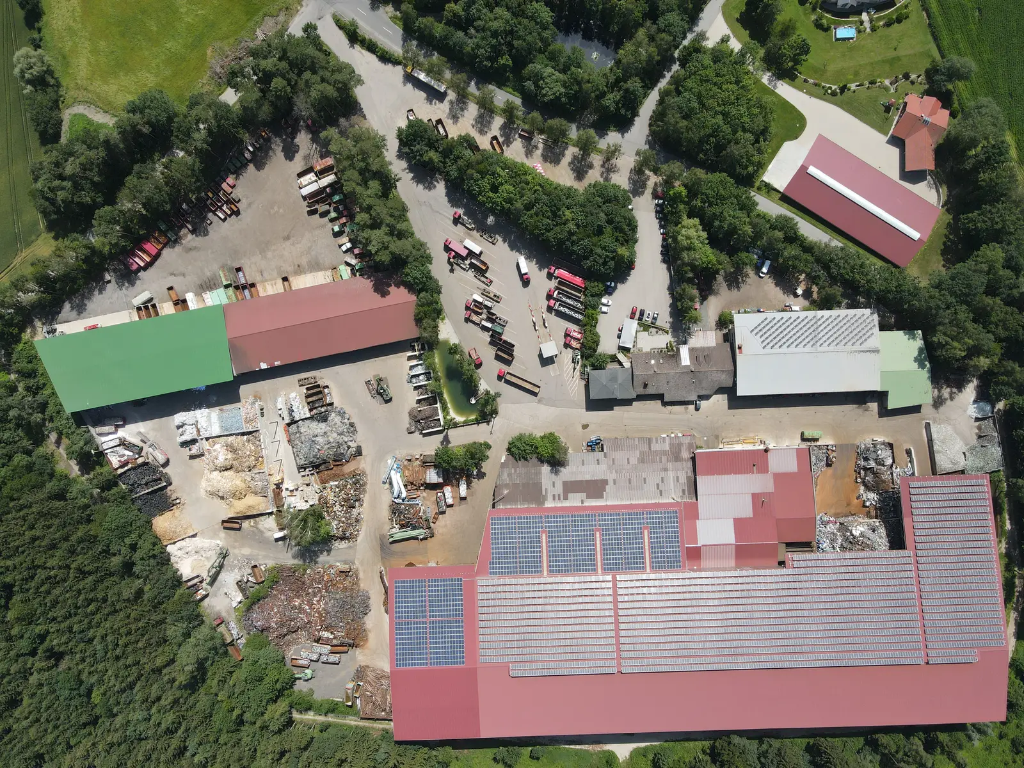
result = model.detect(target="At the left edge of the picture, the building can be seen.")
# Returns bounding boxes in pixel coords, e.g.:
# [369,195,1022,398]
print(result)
[35,305,241,413]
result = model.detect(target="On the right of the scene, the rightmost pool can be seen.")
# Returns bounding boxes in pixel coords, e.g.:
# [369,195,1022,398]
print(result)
[832,24,858,42]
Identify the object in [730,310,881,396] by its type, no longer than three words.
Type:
building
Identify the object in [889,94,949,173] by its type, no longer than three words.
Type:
house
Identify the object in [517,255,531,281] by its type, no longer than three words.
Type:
vehicle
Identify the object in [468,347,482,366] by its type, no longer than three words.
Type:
vehicle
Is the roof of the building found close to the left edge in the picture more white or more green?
green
